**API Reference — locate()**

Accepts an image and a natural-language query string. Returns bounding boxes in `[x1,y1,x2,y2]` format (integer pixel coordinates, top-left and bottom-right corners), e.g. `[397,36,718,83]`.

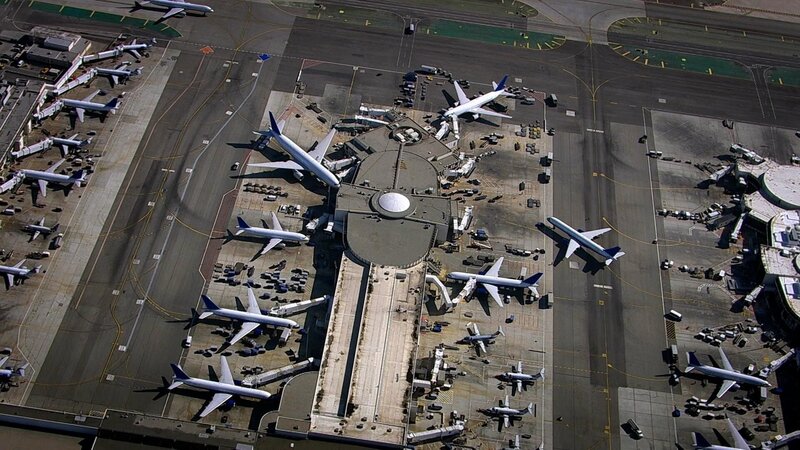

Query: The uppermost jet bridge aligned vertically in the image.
[448,113,462,141]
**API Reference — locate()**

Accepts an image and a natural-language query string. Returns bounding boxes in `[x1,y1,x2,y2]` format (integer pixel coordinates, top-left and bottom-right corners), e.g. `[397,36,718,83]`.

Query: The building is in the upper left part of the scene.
[0,20,94,175]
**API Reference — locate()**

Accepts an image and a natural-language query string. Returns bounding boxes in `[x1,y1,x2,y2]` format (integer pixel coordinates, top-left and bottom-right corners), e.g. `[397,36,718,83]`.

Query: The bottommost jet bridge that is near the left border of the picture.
[0,171,25,194]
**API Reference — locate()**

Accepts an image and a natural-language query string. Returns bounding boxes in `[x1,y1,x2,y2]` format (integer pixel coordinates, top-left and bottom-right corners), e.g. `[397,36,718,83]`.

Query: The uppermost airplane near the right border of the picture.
[683,345,771,398]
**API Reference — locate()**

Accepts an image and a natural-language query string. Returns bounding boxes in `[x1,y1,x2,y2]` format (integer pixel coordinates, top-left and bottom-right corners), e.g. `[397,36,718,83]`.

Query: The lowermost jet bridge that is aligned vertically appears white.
[428,351,443,388]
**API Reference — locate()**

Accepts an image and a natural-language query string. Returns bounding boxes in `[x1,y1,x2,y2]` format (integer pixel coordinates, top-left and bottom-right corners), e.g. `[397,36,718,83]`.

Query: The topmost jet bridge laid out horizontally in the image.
[79,48,121,69]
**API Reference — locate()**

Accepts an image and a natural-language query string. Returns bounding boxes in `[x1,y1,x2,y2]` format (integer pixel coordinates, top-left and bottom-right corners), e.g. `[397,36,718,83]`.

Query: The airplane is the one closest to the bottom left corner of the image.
[0,354,27,378]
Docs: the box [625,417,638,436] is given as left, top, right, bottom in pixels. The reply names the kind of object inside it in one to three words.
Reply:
vehicle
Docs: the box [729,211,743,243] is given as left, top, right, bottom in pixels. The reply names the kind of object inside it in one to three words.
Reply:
jet bridge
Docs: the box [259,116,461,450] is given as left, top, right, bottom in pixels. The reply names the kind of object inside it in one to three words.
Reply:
building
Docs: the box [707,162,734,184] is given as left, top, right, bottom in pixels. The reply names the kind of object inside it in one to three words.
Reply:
jet bridge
